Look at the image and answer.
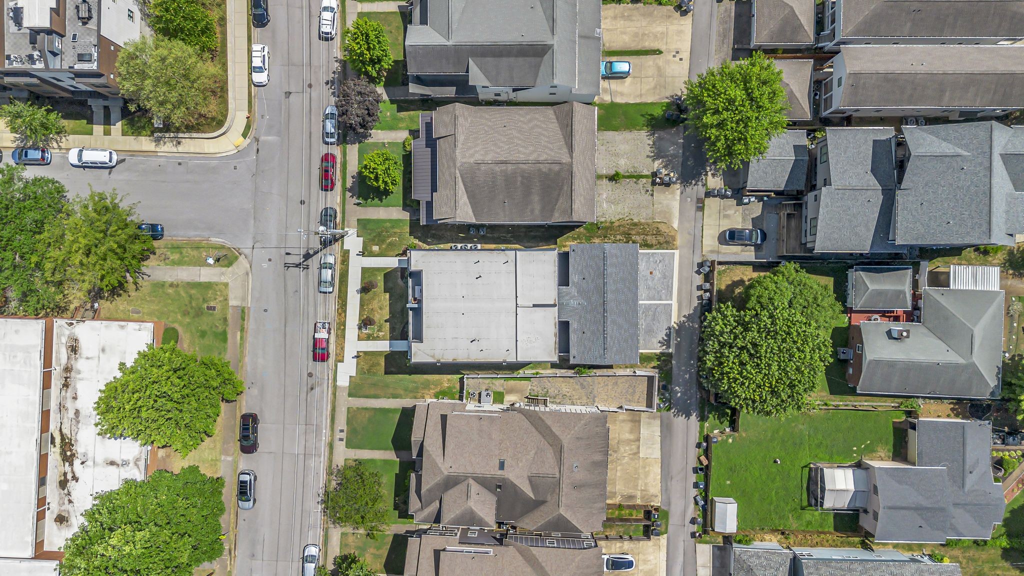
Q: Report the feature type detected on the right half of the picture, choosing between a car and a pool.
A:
car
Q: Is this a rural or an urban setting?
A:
urban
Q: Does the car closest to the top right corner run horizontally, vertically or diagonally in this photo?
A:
horizontally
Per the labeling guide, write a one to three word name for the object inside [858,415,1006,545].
house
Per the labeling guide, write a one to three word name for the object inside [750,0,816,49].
building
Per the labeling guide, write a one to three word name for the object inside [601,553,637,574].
car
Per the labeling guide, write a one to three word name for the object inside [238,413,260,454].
car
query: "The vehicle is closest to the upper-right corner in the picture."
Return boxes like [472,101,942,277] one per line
[722,226,765,246]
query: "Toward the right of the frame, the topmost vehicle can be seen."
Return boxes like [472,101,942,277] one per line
[601,58,632,79]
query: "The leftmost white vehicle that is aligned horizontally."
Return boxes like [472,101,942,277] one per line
[70,147,118,168]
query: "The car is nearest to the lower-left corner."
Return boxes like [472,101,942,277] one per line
[238,470,257,510]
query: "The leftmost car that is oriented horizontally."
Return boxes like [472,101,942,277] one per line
[12,148,53,165]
